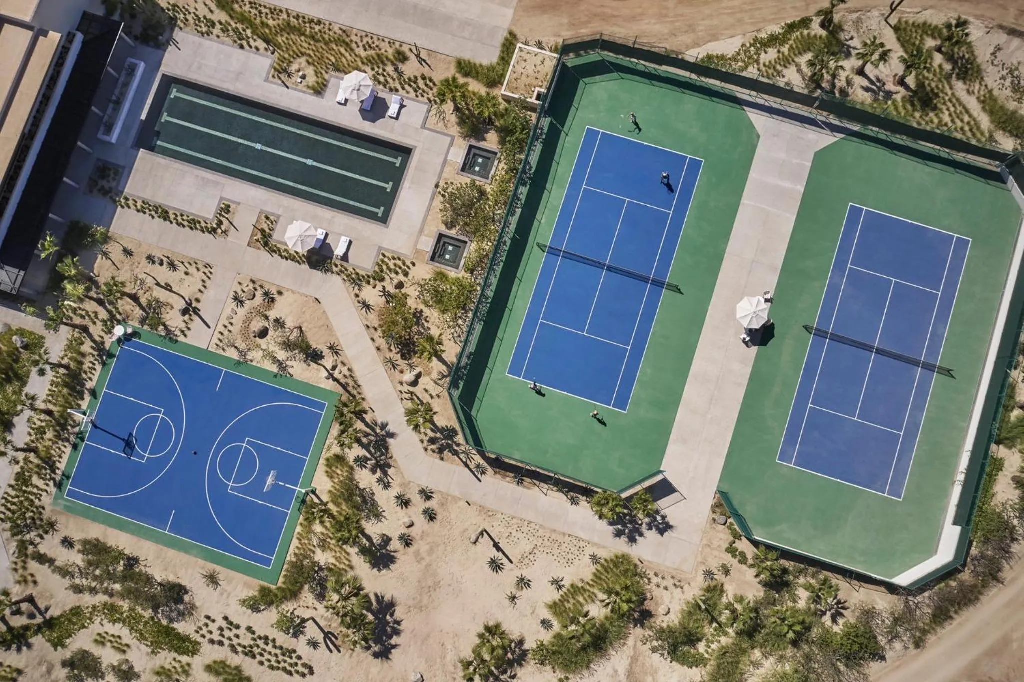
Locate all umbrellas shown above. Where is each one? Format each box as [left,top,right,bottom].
[736,298,766,329]
[342,74,373,102]
[286,221,319,253]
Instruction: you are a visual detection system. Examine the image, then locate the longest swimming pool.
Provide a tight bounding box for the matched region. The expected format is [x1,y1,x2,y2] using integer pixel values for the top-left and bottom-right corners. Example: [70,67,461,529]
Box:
[130,69,418,230]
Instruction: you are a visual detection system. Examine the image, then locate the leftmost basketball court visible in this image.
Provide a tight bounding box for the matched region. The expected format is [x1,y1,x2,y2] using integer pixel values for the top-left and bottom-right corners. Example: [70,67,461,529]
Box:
[51,322,341,584]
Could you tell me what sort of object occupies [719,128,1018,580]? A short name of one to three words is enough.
tennis court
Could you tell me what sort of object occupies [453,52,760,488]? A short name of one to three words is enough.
tennis court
